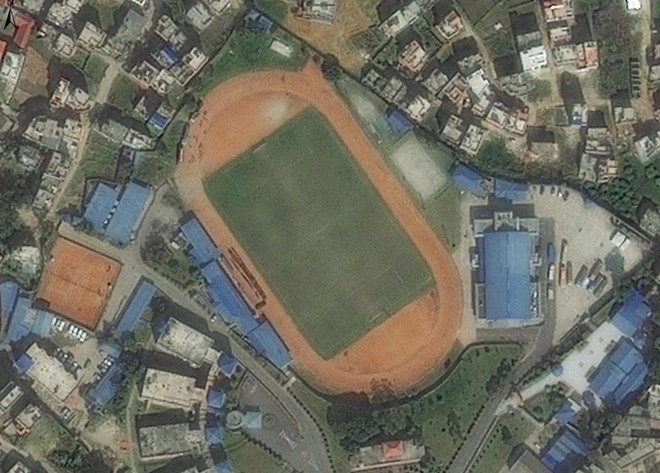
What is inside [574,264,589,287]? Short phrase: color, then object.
gray vehicle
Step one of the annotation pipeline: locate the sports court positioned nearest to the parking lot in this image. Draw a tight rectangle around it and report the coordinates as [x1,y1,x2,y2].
[385,126,454,207]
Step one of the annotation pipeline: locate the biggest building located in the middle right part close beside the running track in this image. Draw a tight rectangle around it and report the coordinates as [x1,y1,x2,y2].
[472,211,548,328]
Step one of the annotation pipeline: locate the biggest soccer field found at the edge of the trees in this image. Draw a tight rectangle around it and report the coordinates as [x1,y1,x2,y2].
[201,105,436,362]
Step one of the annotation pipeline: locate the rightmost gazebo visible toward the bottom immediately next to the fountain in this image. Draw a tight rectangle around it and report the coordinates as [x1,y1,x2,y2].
[244,410,265,432]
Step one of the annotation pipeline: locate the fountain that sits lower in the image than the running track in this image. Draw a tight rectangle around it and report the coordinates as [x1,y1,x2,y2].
[226,411,244,430]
